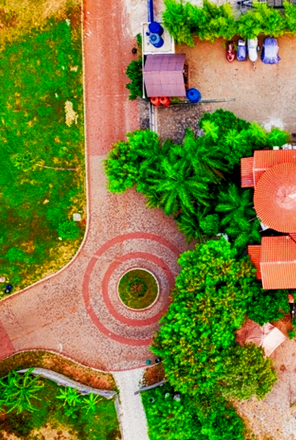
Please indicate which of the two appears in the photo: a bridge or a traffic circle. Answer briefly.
traffic circle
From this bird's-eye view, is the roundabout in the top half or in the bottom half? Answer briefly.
bottom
